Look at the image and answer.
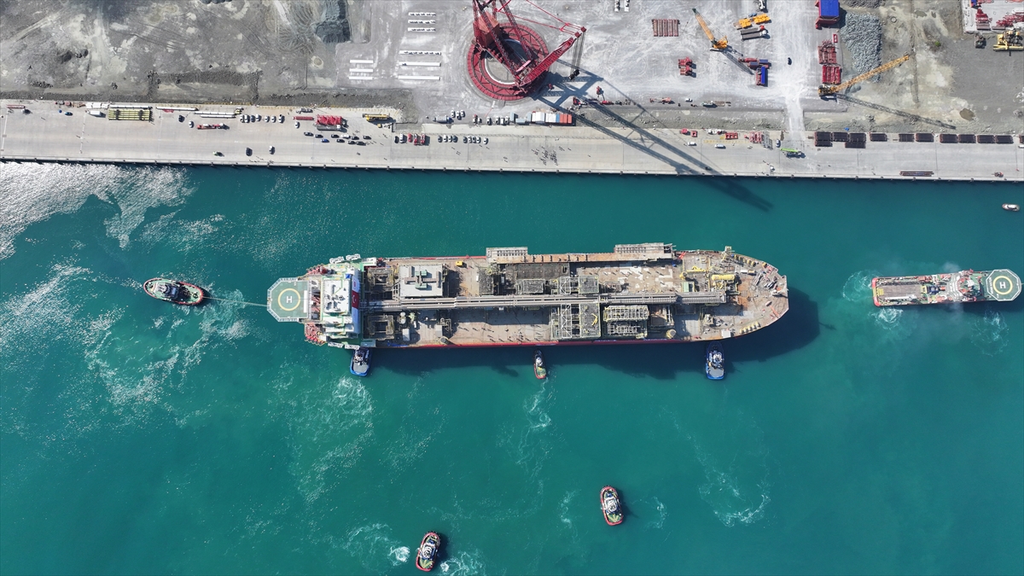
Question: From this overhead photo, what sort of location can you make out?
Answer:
port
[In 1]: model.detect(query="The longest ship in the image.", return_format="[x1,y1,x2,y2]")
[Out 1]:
[267,243,790,351]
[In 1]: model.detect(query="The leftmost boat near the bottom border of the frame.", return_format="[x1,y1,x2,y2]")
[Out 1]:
[412,532,441,575]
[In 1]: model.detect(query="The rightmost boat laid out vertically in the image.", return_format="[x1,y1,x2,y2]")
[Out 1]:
[706,340,726,381]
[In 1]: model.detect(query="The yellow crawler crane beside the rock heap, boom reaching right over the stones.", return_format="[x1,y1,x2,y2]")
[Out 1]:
[824,54,915,95]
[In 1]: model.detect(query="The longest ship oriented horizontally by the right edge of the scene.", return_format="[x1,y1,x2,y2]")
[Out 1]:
[867,268,1022,308]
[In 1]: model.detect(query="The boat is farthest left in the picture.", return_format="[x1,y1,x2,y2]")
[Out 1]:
[140,277,205,309]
